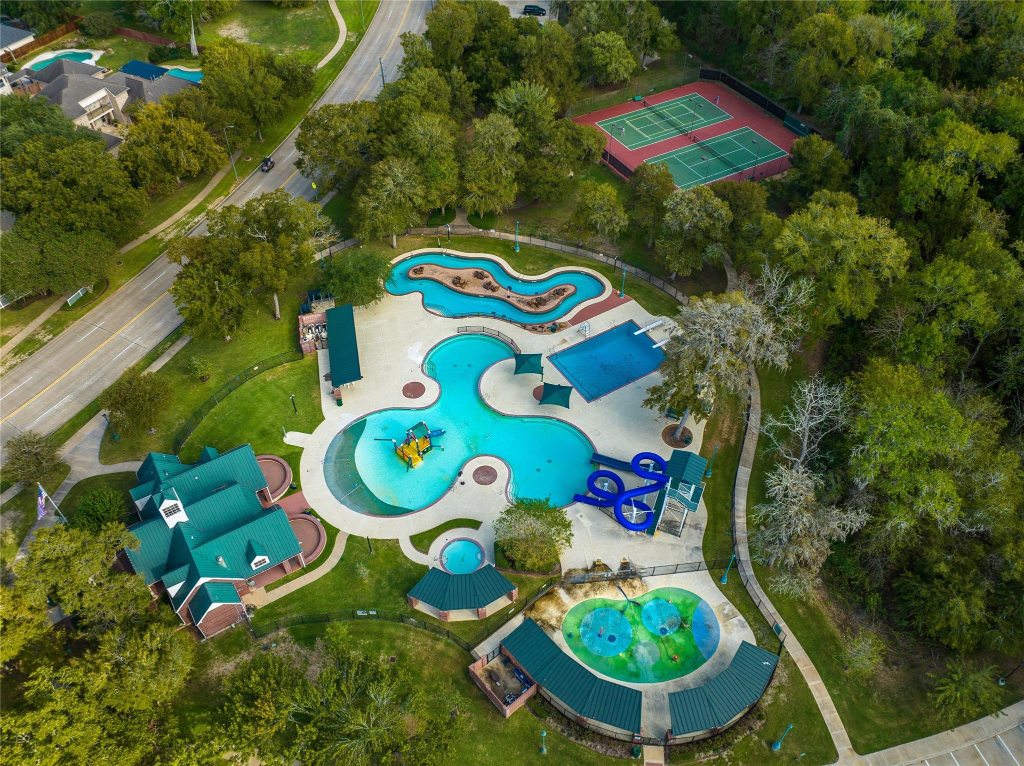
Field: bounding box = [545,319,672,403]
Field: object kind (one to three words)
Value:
swimming pool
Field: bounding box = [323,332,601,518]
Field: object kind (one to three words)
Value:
swimming pool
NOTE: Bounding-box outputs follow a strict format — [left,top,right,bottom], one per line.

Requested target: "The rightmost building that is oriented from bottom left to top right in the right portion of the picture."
[663,641,779,744]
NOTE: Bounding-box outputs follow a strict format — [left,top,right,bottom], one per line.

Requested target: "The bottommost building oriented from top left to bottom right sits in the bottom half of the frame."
[501,617,644,735]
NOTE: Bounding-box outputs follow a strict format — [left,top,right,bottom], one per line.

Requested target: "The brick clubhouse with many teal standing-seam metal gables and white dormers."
[125,440,307,637]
